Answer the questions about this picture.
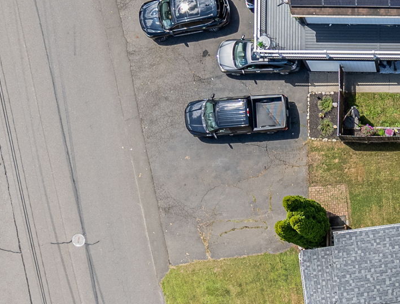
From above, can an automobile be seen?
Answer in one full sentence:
Yes, the picture does show an automobile.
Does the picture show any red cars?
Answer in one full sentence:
No, no red car is visible in the scene.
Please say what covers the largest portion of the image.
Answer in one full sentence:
The scene is dominated by paved ground.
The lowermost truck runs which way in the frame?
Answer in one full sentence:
From this overhead view, the lowermost truck appears to run horizontally.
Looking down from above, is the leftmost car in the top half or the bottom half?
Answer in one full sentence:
It is in the top half that the leftmost car appears.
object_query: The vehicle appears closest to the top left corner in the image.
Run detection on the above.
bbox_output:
[139,0,233,43]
